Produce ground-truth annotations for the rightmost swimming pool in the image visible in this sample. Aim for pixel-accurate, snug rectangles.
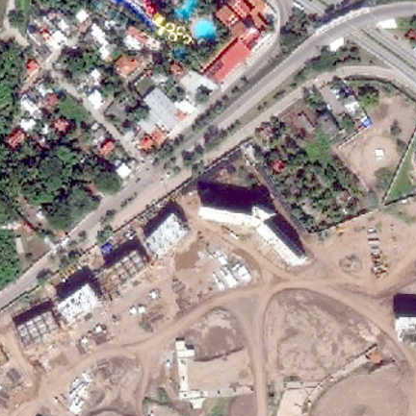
[193,18,215,41]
